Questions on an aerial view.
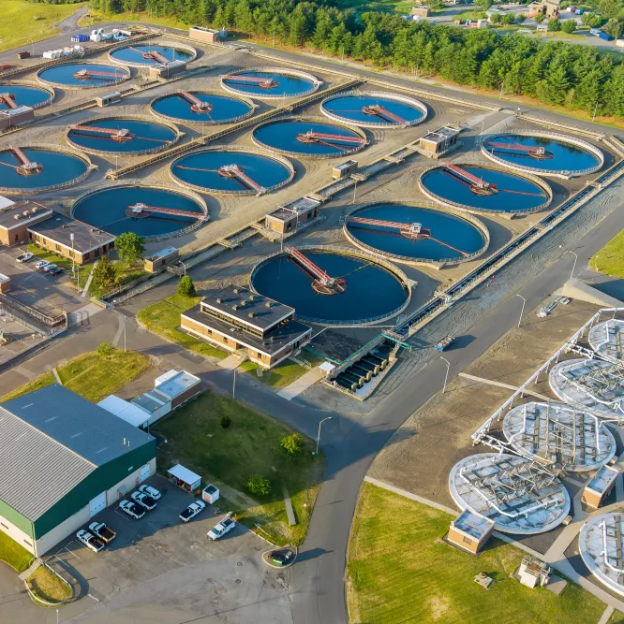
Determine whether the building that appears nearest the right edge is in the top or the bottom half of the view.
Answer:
bottom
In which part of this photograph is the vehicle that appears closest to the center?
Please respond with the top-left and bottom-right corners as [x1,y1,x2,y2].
[434,328,460,352]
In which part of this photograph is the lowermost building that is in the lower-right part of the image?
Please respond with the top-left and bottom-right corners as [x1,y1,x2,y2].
[447,508,497,554]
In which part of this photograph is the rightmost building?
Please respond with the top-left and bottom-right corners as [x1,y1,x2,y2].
[580,467,619,509]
